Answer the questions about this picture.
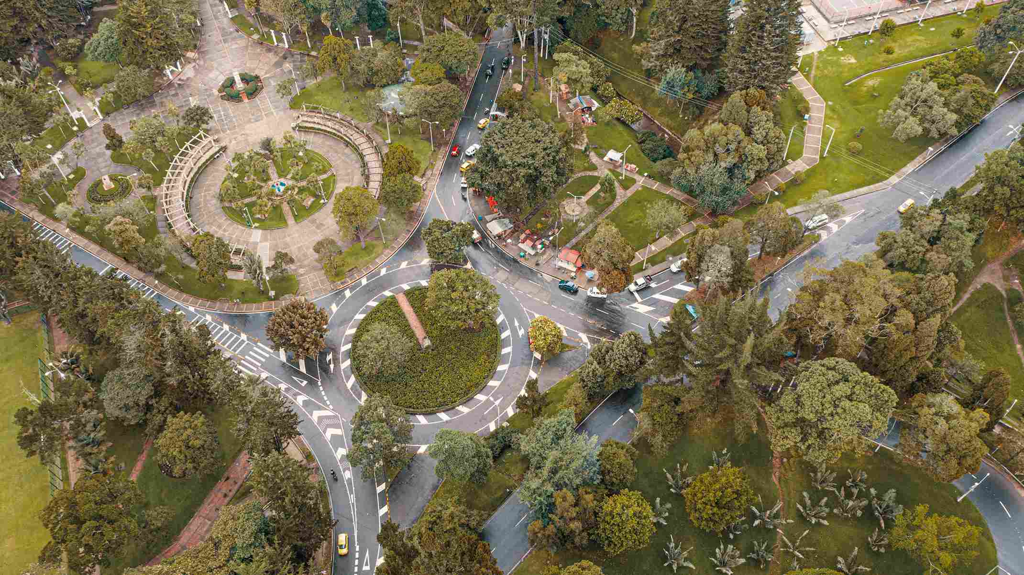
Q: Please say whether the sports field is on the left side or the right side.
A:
left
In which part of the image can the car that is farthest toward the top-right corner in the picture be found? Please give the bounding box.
[898,198,915,213]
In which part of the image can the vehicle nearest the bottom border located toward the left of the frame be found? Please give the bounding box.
[335,532,349,559]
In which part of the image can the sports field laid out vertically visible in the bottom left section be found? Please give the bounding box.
[0,313,52,575]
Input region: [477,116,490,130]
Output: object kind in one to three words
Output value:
vehicle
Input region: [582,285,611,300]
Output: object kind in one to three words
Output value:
vehicle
